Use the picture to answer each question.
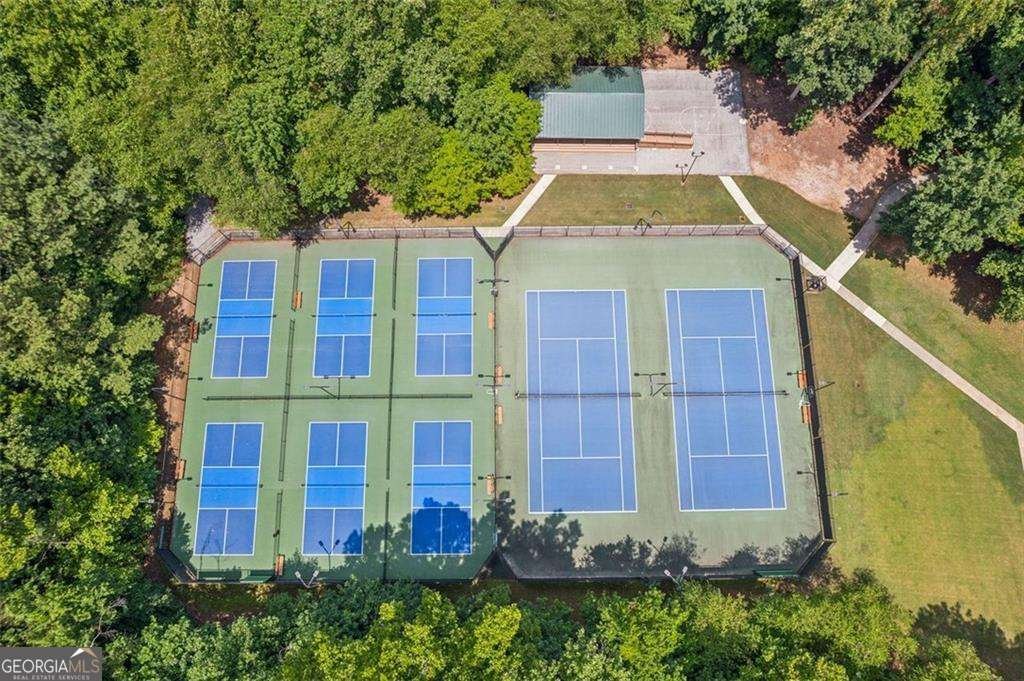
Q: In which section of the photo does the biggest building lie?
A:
top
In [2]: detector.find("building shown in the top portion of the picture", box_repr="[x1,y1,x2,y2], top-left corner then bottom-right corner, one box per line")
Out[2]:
[532,67,644,146]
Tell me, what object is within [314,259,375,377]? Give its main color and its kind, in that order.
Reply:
blue sports court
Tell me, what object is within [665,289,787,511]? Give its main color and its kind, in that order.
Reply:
blue tennis court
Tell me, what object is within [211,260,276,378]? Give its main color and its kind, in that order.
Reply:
blue sports court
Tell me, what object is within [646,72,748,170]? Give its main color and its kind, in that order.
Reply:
white basketball court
